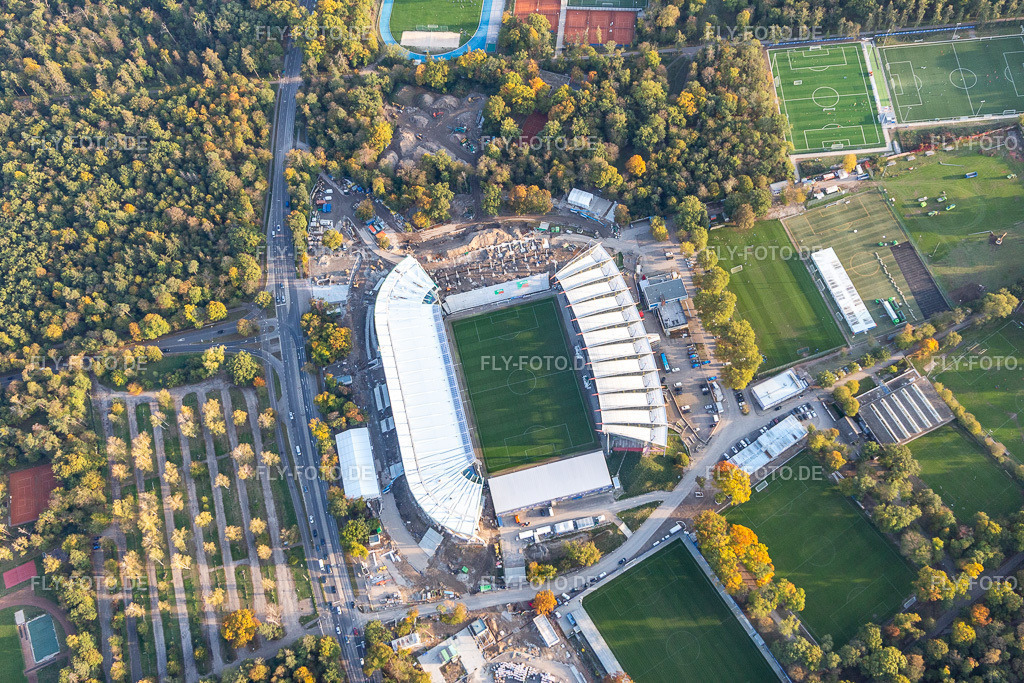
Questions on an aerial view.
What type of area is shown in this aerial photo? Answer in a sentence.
It's a sports ground.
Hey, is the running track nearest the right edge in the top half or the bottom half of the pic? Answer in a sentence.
The running track nearest the right edge sits in the top half of the picture.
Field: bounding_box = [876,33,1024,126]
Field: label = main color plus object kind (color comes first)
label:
green soccer field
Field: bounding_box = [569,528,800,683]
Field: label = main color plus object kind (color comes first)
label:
green soccer field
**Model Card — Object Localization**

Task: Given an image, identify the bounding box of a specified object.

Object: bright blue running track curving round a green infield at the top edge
[379,0,508,58]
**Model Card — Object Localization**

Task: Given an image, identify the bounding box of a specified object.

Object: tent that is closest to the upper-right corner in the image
[567,189,594,209]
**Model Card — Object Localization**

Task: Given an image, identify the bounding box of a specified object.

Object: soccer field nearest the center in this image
[443,280,607,479]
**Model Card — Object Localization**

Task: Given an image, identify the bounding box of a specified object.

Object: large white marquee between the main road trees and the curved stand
[335,428,381,501]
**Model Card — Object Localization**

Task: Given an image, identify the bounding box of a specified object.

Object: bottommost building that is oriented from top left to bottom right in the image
[532,614,559,646]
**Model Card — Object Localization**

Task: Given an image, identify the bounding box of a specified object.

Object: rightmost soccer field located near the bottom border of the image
[717,457,925,658]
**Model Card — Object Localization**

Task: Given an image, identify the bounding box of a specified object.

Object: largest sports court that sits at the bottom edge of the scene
[25,615,58,662]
